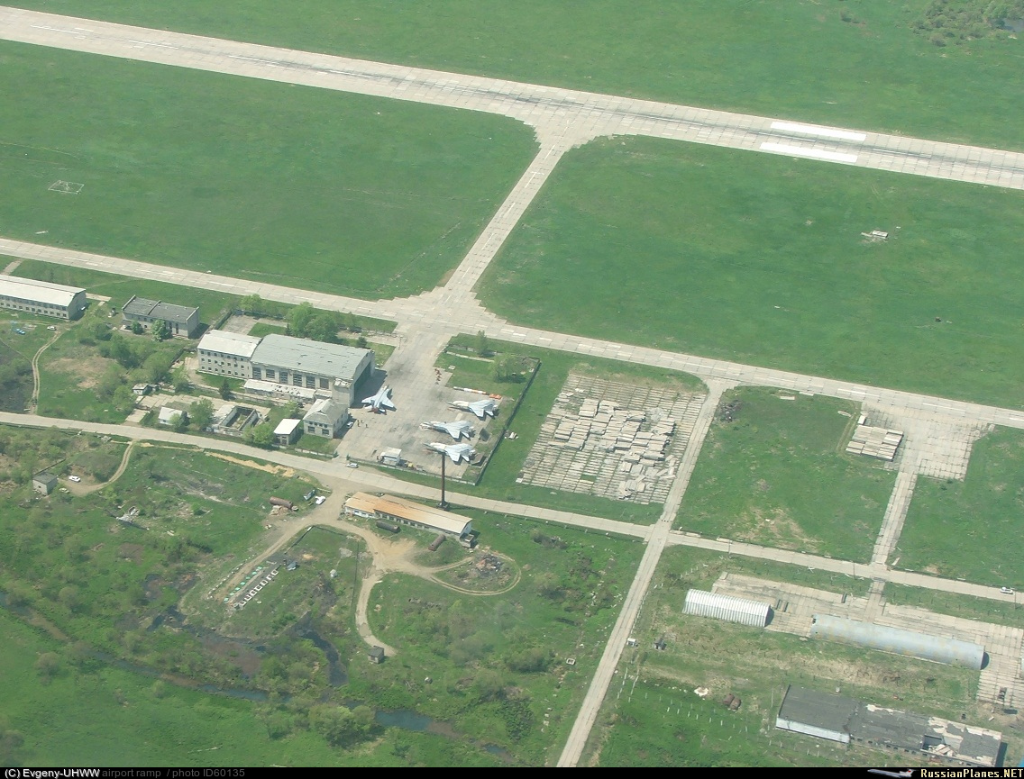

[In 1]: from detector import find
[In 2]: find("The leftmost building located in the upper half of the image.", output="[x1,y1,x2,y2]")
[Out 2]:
[0,277,83,319]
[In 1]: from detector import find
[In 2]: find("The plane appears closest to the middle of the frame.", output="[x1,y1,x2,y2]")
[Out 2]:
[458,395,499,414]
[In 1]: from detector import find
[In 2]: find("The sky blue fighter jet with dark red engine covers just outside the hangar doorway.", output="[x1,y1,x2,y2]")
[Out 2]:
[361,383,396,412]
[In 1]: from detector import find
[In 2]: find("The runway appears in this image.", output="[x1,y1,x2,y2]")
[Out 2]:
[0,5,1024,189]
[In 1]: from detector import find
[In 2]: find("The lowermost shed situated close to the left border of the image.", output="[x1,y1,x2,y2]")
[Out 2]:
[32,469,60,494]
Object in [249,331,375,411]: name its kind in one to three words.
hangar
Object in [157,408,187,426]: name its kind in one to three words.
shed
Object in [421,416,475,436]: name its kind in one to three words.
airplane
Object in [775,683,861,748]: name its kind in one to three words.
building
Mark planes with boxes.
[421,416,475,436]
[361,383,396,412]
[458,395,499,414]
[435,438,478,459]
